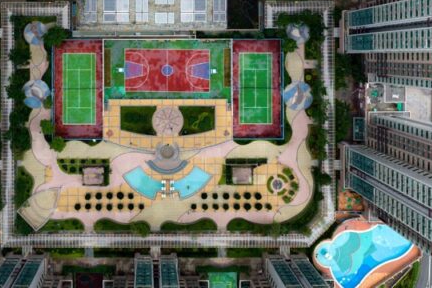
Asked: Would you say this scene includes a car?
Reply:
No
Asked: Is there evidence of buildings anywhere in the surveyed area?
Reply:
Yes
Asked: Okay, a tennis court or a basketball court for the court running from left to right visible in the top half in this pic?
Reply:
basketball court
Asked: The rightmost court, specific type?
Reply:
tennis court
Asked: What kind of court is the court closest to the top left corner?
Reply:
tennis court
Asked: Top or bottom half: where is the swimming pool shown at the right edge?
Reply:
bottom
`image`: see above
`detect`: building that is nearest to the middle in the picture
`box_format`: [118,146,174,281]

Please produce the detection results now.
[230,165,253,186]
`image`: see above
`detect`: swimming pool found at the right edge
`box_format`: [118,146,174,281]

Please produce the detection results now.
[313,211,420,288]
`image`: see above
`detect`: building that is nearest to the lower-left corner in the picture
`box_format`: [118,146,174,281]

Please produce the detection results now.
[0,253,74,288]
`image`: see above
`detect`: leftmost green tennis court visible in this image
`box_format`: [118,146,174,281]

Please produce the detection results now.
[52,40,103,141]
